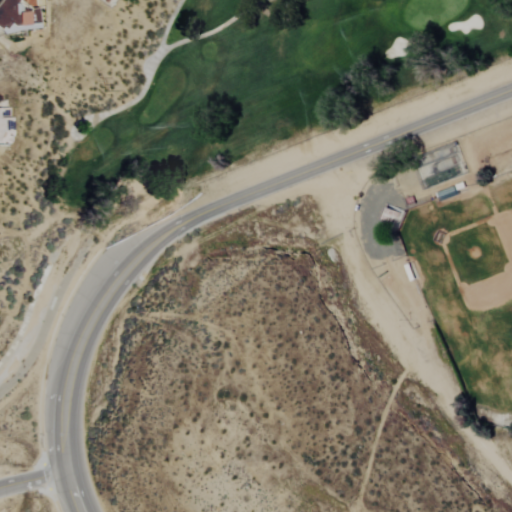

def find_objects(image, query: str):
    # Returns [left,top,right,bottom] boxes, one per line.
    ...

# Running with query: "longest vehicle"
[436,184,465,200]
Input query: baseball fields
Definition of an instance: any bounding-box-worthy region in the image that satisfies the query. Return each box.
[400,178,512,412]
